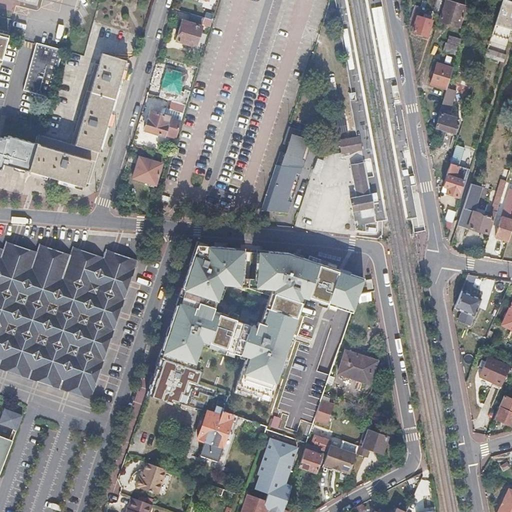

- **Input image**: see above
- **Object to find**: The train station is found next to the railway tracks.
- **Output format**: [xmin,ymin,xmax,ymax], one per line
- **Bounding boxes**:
[337,0,426,232]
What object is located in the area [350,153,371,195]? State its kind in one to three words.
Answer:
house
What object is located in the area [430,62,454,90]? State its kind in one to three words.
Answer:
house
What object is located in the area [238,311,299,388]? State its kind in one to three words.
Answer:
building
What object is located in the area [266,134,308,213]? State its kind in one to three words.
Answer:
building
